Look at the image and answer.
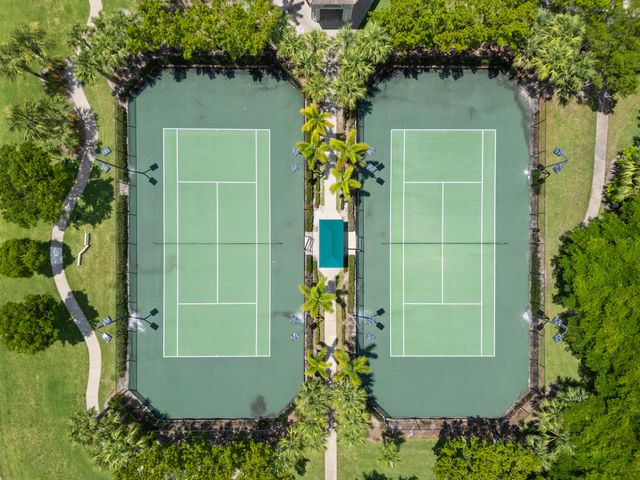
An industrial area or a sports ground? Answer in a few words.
sports ground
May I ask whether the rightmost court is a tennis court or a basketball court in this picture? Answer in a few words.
tennis court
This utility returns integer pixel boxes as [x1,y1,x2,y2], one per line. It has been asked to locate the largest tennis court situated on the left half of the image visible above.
[129,69,304,418]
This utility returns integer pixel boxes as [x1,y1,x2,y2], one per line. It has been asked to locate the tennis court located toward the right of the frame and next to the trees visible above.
[357,69,531,418]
